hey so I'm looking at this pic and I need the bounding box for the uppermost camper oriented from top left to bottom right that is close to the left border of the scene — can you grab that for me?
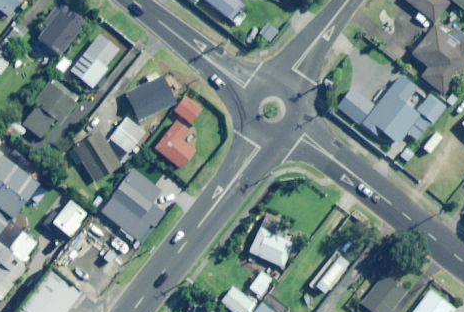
[10,122,26,136]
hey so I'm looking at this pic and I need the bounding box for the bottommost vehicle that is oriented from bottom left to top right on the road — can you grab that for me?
[153,272,168,288]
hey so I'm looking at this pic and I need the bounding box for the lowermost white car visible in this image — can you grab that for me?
[170,230,184,245]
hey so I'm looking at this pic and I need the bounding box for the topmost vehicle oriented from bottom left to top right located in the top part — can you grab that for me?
[246,26,259,42]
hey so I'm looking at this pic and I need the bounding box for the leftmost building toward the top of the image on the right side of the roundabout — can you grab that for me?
[338,88,374,124]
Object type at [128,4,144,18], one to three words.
vehicle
